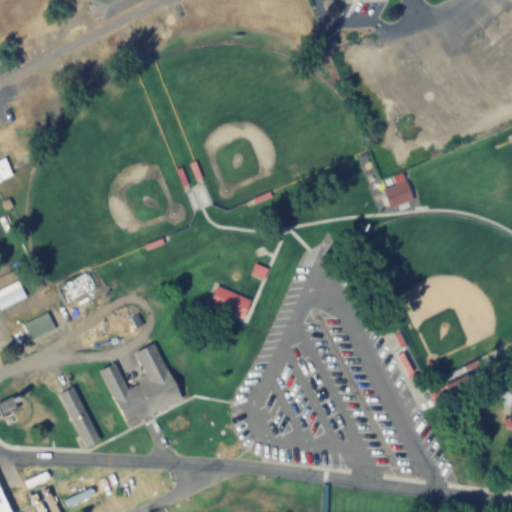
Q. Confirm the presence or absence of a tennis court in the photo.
No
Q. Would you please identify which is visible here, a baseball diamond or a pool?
baseball diamond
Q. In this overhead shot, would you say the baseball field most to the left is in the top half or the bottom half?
top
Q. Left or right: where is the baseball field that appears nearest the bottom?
right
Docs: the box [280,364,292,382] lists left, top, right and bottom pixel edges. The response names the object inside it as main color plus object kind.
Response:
white vehicle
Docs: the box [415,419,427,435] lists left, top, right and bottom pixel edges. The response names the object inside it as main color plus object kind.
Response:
white vehicle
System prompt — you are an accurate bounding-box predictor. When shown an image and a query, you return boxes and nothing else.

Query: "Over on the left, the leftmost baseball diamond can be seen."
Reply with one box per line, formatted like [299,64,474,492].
[30,70,196,281]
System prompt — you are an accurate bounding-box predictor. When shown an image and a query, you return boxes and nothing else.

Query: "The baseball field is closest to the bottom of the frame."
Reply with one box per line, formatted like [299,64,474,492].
[386,216,512,378]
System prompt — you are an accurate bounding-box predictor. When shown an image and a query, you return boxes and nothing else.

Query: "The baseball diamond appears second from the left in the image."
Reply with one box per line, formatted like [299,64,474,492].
[156,45,362,210]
